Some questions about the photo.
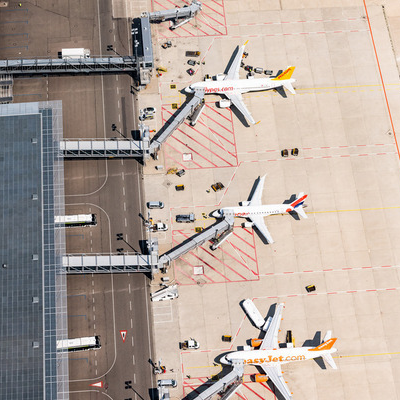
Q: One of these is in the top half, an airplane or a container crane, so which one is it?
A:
airplane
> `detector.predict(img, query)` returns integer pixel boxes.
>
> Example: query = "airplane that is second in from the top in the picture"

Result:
[213,172,306,242]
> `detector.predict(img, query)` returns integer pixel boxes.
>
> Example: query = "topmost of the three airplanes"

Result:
[189,38,299,124]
